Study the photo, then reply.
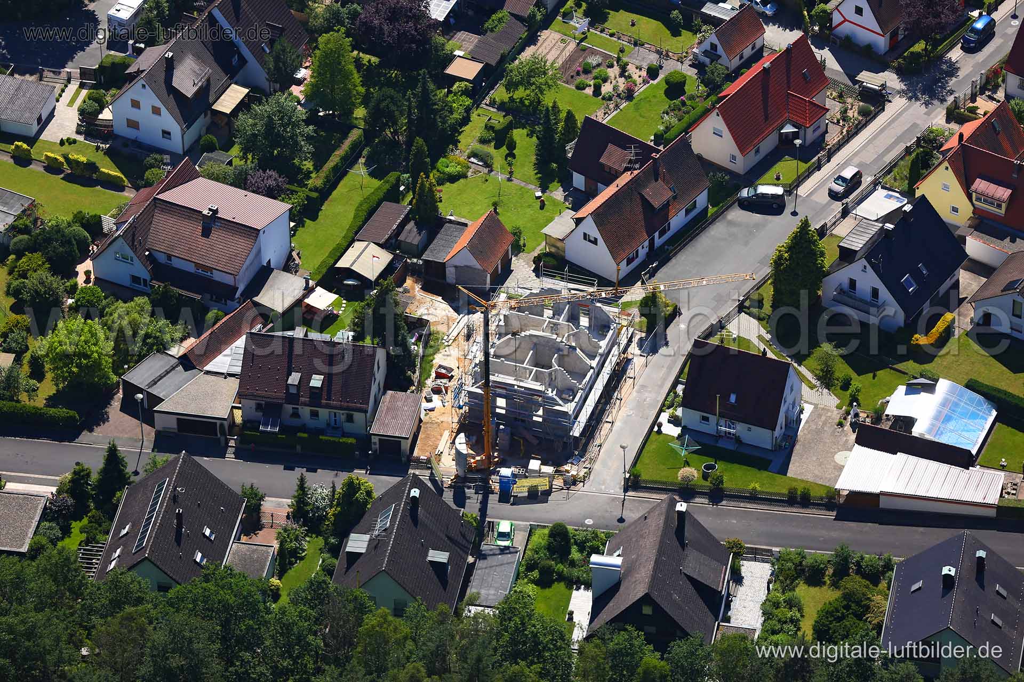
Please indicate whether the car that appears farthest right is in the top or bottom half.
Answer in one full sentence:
The top half of the photo is where the car that appears farthest right is.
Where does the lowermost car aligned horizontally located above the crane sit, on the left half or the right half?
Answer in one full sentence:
It is on the right.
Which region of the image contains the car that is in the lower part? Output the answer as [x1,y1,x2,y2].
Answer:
[490,513,517,545]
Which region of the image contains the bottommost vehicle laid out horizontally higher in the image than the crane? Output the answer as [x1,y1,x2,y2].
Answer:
[737,187,786,210]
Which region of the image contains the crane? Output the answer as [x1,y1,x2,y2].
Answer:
[449,255,756,481]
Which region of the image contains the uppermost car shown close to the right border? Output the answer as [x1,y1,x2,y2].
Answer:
[959,16,998,54]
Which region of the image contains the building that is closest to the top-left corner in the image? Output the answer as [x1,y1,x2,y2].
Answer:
[0,74,55,139]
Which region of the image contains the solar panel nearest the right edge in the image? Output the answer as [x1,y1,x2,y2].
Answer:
[370,502,393,539]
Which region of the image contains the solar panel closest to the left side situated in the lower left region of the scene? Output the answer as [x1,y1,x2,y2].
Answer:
[131,476,168,553]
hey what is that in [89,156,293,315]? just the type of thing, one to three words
house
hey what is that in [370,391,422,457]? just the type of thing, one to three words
building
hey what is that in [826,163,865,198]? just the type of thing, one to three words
car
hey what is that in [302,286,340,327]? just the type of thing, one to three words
gazebo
